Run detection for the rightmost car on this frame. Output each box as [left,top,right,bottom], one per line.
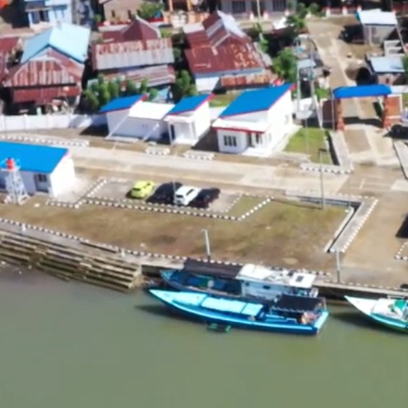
[194,189,221,205]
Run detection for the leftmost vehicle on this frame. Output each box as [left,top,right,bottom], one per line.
[131,182,157,198]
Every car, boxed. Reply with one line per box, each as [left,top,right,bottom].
[194,189,221,205]
[175,187,203,203]
[131,182,157,198]
[152,185,181,202]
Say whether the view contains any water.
Yes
